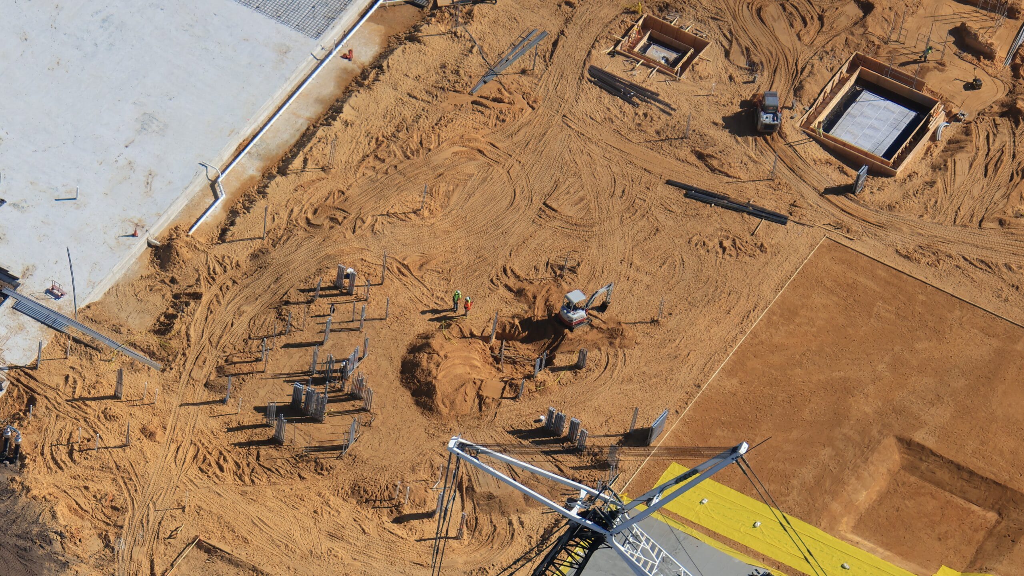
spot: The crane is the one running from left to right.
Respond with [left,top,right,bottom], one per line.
[431,431,826,576]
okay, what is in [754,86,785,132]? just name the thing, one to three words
work vehicle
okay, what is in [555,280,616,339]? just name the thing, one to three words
work vehicle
